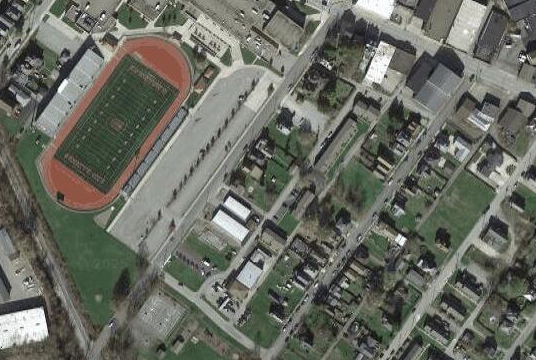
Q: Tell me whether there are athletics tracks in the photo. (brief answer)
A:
Yes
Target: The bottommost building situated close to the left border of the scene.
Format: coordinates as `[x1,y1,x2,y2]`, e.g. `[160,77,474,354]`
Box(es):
[0,305,47,349]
